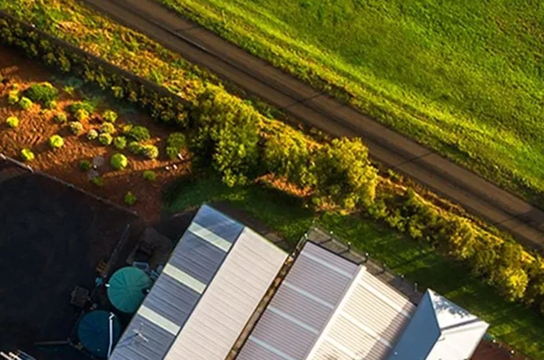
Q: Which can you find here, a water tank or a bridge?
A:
water tank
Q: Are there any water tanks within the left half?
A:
Yes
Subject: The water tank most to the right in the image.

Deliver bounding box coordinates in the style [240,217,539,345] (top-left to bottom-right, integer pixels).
[104,269,154,317]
